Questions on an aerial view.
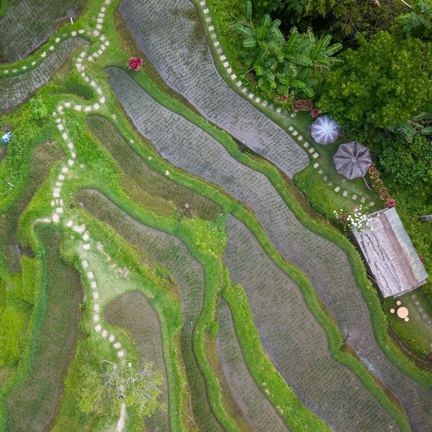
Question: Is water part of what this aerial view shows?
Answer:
Yes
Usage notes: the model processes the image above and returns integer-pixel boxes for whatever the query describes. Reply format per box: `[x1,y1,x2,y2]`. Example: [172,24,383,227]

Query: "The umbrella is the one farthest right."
[330,141,369,179]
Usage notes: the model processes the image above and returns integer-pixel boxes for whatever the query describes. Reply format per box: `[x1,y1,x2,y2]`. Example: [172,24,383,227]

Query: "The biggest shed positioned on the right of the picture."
[349,204,429,297]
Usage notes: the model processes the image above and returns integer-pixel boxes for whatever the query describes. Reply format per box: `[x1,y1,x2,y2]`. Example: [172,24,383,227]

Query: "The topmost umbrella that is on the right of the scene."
[310,116,337,144]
